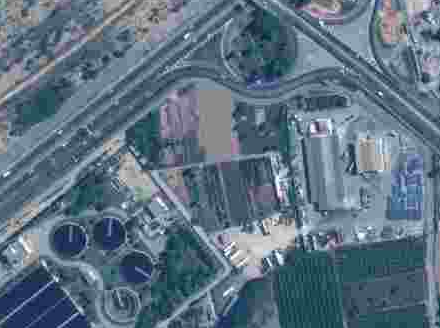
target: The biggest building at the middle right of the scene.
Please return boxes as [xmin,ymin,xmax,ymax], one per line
[305,132,352,212]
